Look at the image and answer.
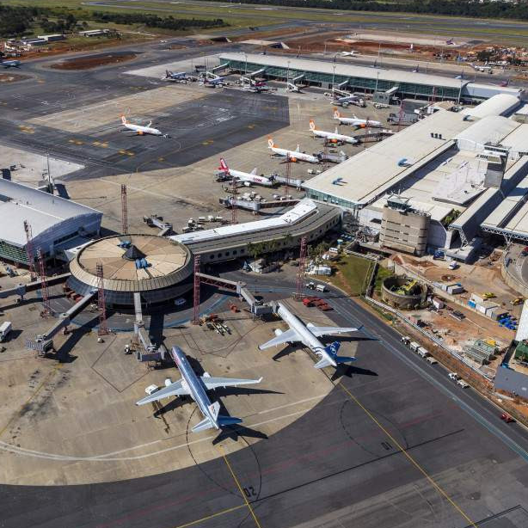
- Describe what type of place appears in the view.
airport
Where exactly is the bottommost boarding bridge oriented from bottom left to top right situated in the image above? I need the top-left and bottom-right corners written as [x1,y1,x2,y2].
[27,293,93,362]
